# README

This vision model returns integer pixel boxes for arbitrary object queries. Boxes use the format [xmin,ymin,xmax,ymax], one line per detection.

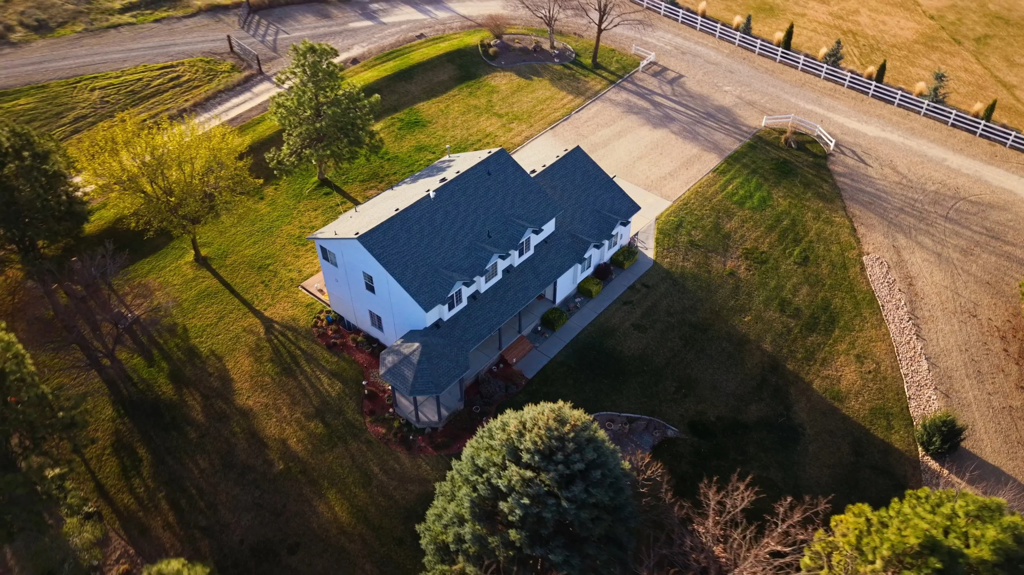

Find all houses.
[297,139,642,430]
